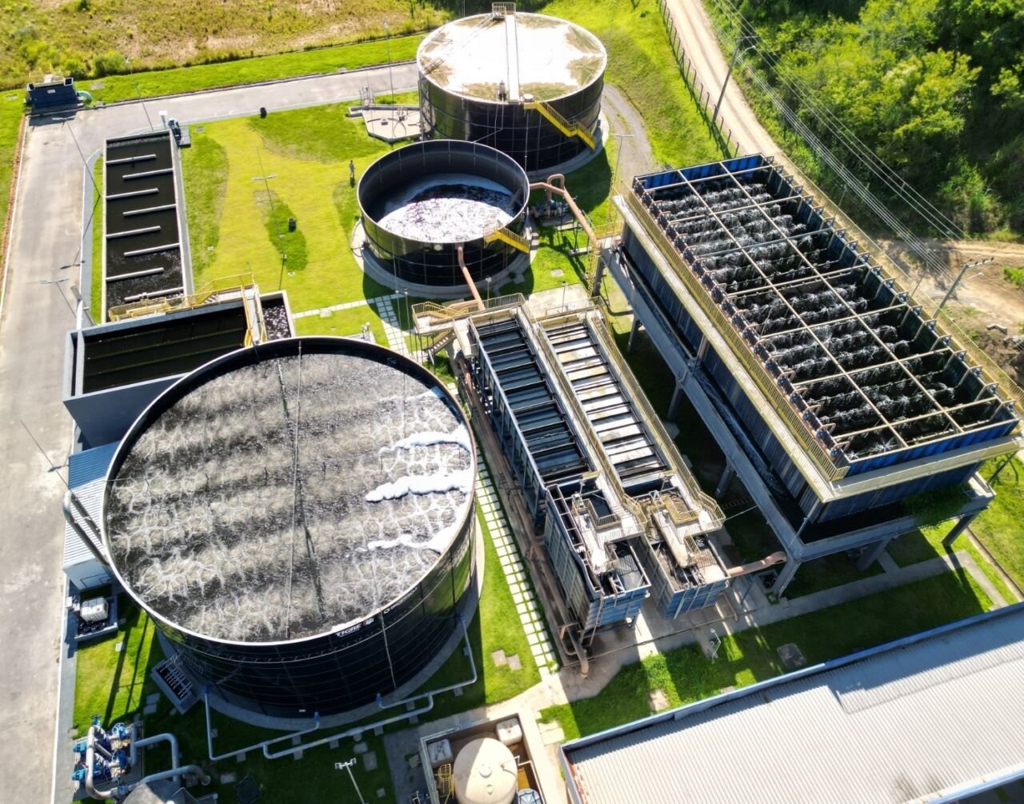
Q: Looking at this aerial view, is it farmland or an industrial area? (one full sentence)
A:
This image shows an industrial area.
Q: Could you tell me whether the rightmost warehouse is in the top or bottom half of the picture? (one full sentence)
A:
It is in the bottom half that the rightmost warehouse appears.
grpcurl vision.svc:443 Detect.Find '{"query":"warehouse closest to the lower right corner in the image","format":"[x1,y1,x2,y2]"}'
[553,601,1024,804]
